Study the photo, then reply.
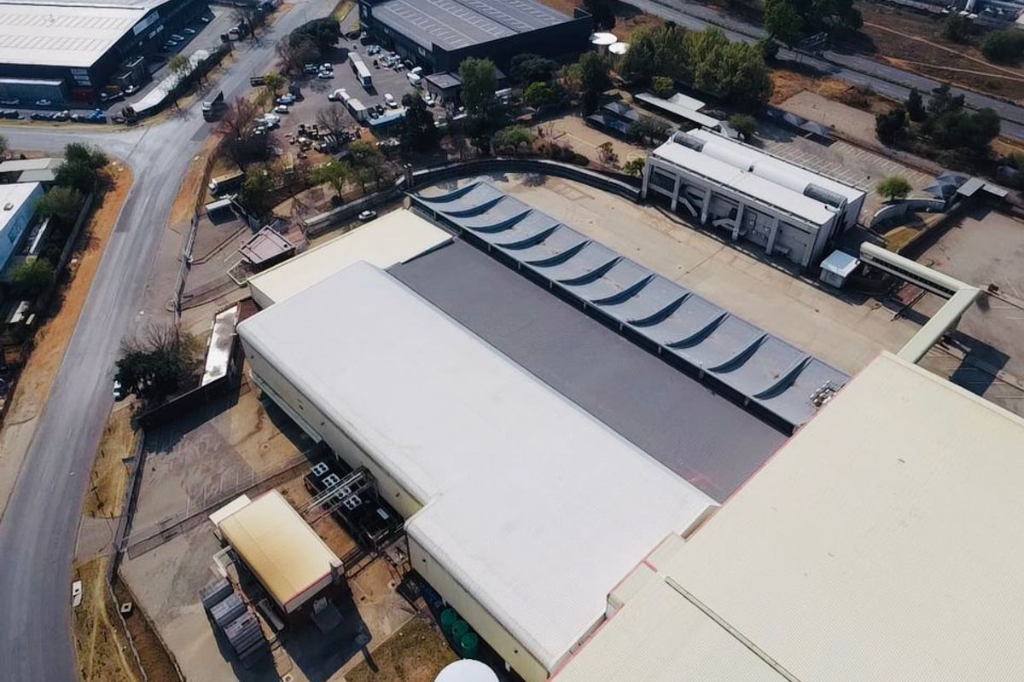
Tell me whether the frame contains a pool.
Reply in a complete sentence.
No, there's no pool here.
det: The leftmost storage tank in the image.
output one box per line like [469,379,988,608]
[249,599,279,637]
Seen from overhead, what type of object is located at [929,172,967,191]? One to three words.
tent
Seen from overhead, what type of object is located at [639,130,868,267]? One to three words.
building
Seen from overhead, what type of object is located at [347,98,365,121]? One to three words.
vehicle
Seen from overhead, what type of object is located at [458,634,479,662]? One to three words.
water tank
